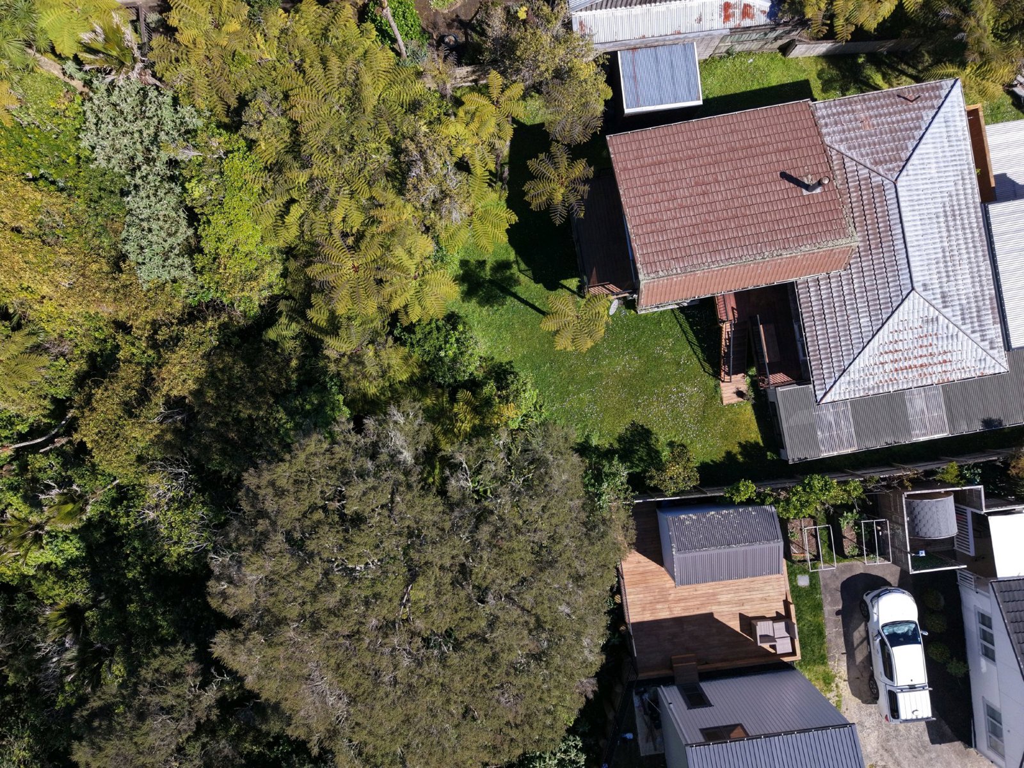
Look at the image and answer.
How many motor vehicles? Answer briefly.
one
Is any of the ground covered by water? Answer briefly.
No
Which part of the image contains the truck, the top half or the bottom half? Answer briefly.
bottom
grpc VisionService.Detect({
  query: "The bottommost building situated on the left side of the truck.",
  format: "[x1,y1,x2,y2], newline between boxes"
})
[653,662,865,768]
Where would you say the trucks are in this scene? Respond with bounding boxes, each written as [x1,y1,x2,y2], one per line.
[861,583,945,730]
